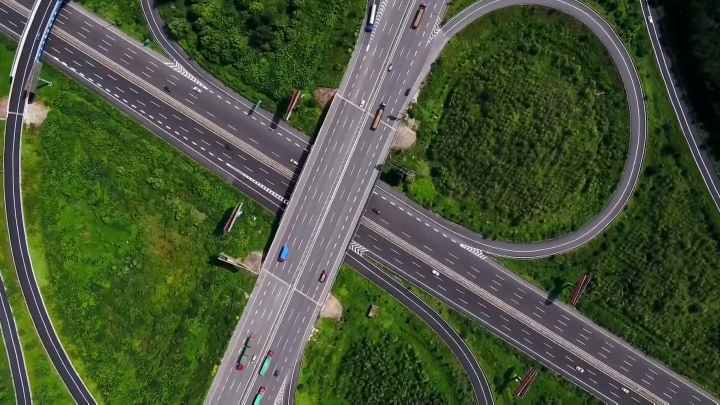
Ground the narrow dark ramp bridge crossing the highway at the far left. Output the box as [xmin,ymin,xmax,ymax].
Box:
[5,0,60,120]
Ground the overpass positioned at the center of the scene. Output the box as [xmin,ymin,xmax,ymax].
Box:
[262,92,397,307]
